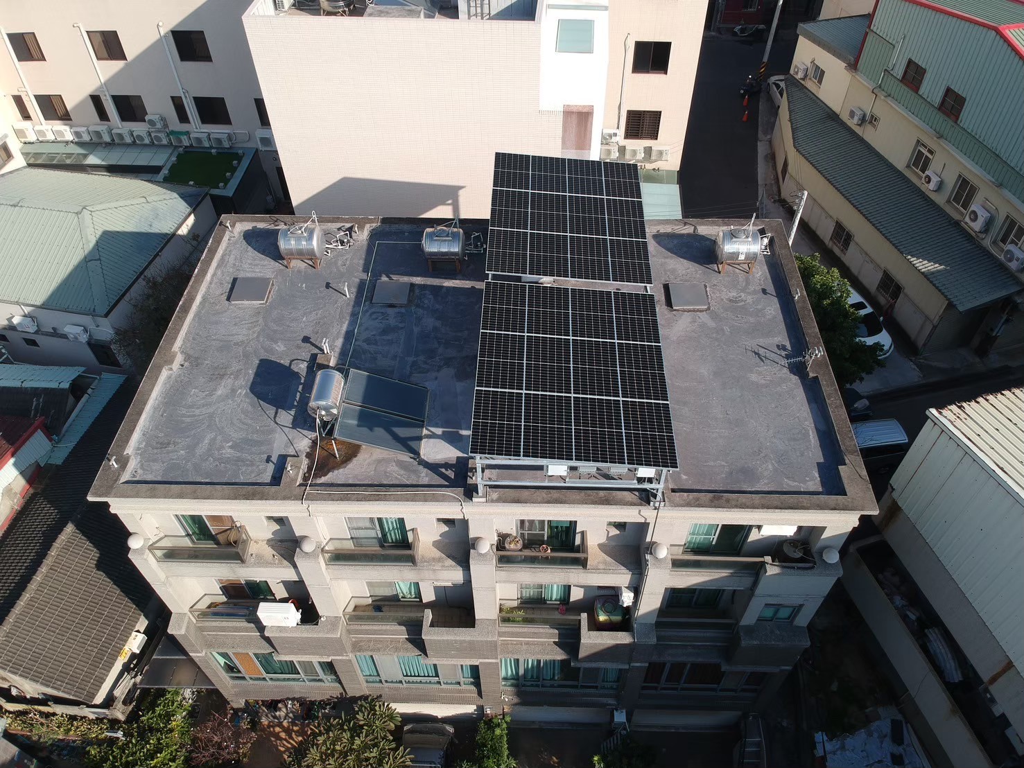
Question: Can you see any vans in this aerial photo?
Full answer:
Yes, this view includes a van.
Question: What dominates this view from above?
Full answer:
Most of the picture is covered by buildings.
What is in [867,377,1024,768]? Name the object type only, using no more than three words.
warehouse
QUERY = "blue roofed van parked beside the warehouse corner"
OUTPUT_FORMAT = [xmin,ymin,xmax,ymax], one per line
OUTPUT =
[852,420,906,477]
